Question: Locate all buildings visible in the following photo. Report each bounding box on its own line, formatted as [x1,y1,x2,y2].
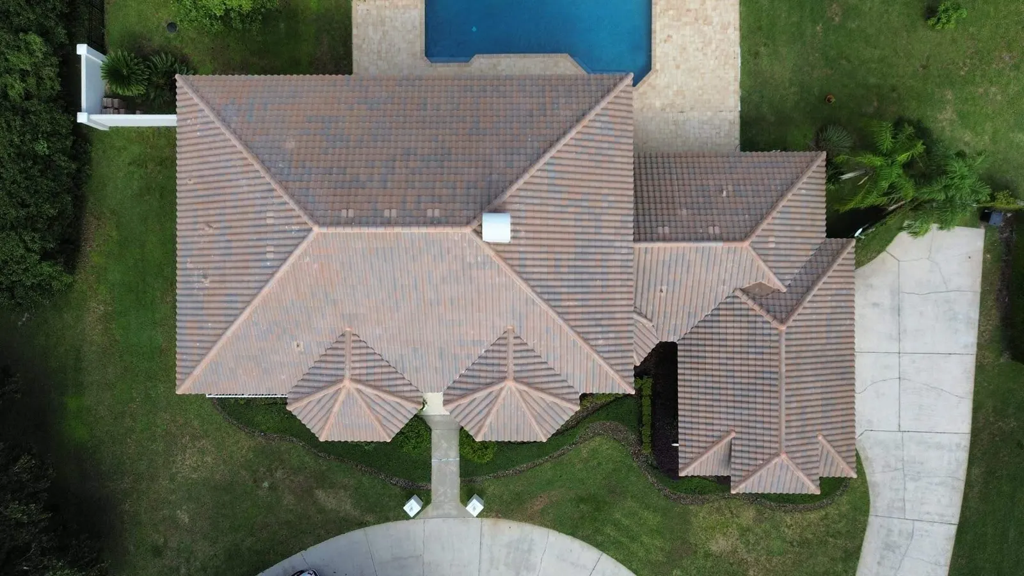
[173,73,858,495]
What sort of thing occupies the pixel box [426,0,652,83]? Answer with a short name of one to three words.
swimming pool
